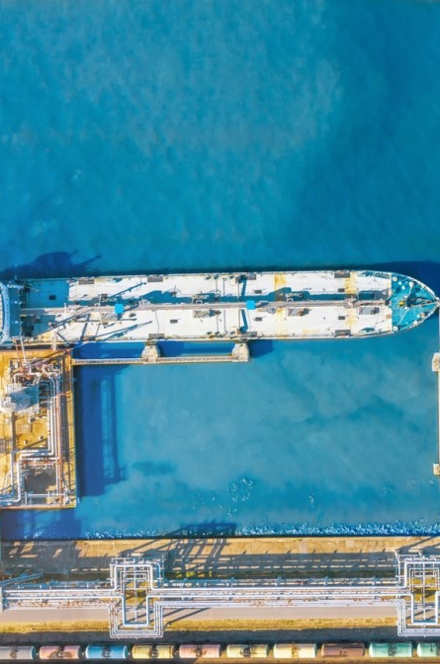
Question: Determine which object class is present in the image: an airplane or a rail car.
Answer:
rail car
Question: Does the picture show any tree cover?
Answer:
No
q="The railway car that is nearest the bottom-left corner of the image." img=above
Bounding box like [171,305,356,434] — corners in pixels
[0,644,42,661]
